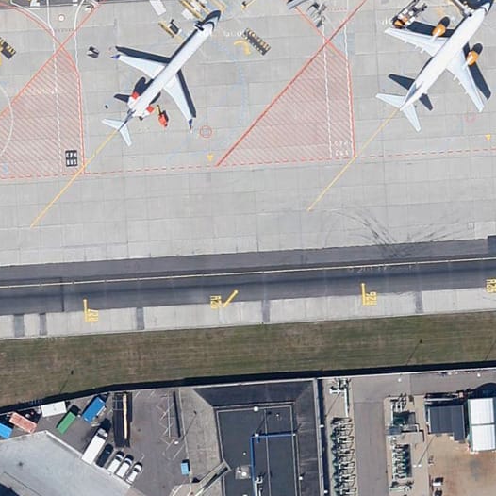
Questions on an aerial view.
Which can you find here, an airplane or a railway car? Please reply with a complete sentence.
This aerial view contains an airplane.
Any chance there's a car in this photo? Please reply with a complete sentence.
Yes, I can see a car in this picture.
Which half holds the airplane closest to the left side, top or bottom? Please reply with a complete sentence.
The airplane closest to the left side is in the top half of the image.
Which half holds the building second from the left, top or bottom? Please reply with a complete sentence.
The building second from the left sits in the bottom half of the picture.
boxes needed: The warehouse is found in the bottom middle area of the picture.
[189,378,324,496]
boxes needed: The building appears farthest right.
[466,396,496,450]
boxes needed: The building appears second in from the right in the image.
[426,404,466,442]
